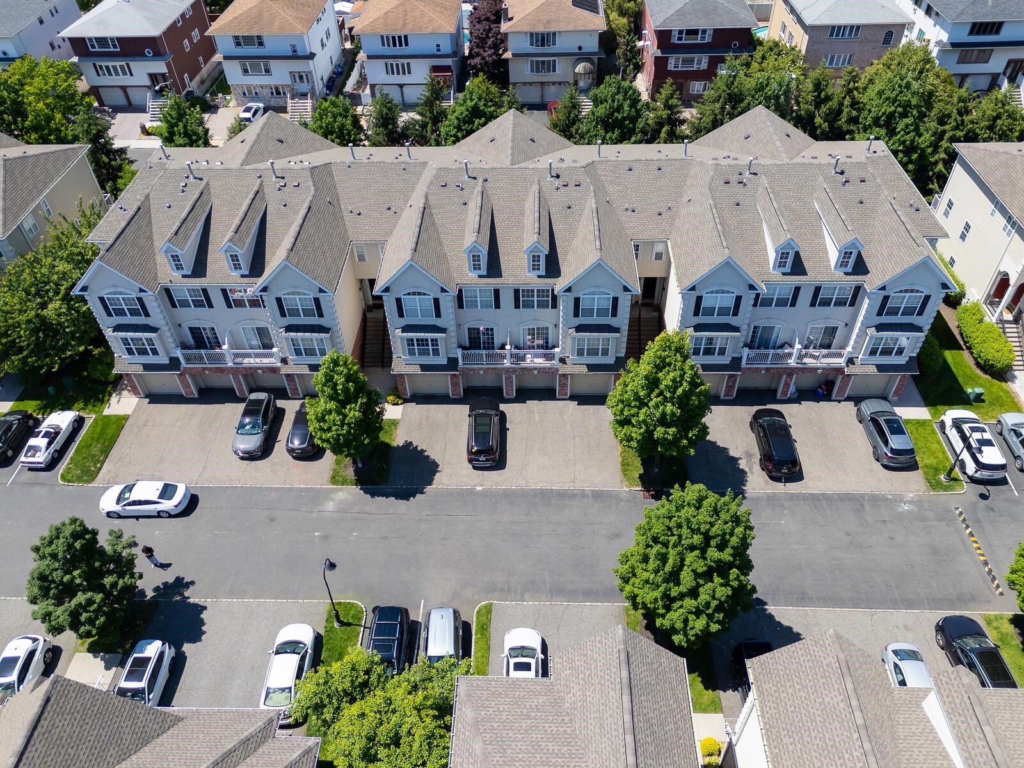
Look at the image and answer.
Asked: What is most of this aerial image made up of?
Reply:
buildings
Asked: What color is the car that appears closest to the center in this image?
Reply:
black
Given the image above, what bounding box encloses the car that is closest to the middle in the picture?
[464,399,504,466]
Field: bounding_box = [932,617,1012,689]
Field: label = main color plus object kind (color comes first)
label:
black car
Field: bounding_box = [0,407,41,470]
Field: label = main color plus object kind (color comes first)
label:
black car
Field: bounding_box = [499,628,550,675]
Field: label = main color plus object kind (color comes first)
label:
white car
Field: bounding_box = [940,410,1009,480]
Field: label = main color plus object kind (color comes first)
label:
white car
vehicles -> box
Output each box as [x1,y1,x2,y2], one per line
[285,401,325,464]
[499,628,550,675]
[940,410,1009,480]
[932,617,1012,689]
[97,483,193,525]
[749,408,801,479]
[464,399,504,466]
[18,413,80,472]
[423,606,467,671]
[0,407,41,470]
[0,636,52,704]
[731,649,769,710]
[256,623,317,731]
[353,608,414,689]
[874,640,929,684]
[112,635,182,704]
[856,400,917,467]
[230,389,286,459]
[237,101,271,127]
